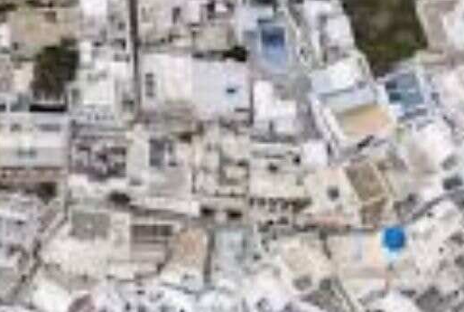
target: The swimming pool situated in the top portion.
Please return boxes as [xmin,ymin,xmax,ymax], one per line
[259,23,287,73]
